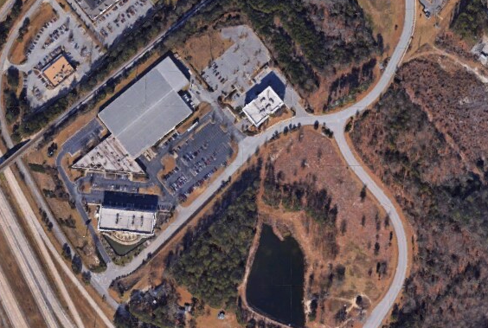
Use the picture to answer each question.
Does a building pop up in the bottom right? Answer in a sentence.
No, no building is visible in the bottom right.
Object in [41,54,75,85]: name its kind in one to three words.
building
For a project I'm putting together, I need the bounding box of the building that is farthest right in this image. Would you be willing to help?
[243,84,283,126]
